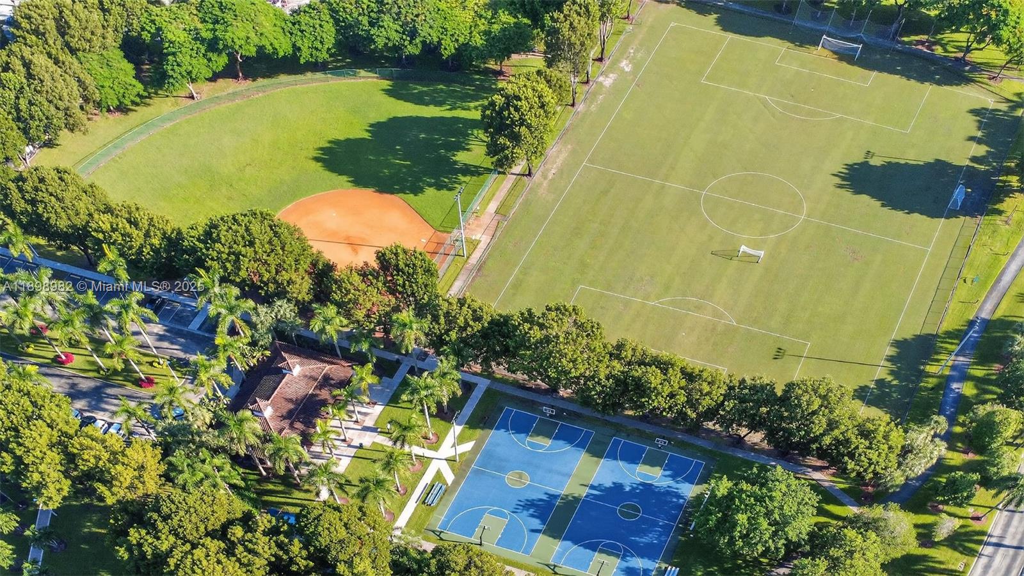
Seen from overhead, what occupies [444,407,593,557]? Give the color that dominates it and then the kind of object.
blue basketball court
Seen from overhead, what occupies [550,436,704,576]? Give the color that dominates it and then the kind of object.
blue basketball court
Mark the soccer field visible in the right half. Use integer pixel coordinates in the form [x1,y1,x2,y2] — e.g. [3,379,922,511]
[461,0,1024,478]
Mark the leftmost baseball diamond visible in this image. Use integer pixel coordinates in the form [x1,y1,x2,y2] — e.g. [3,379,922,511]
[75,76,515,299]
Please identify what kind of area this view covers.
sports ground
